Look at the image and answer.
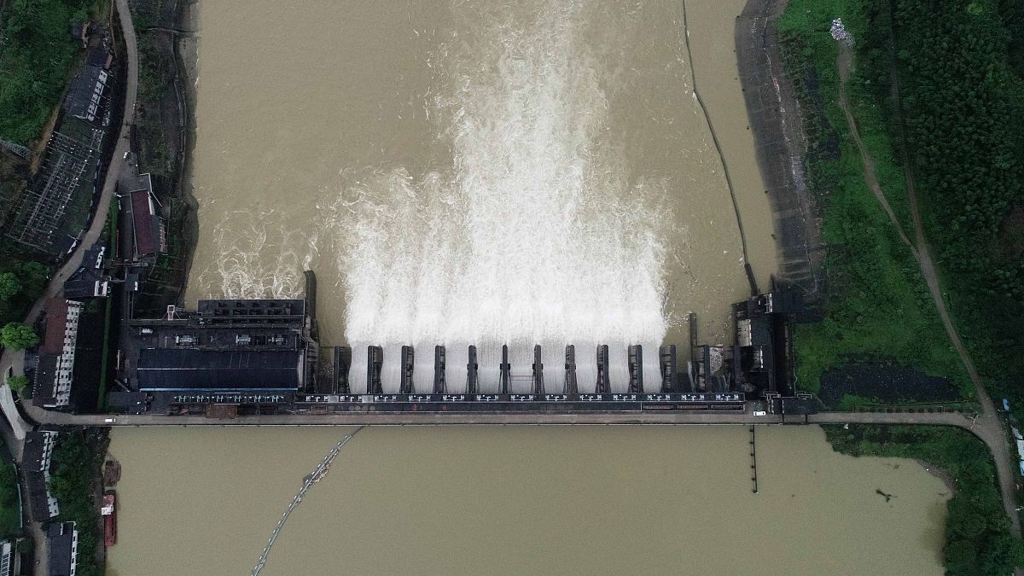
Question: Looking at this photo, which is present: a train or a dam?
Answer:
dam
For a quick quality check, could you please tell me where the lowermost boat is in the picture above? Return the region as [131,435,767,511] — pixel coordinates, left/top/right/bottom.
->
[101,490,116,547]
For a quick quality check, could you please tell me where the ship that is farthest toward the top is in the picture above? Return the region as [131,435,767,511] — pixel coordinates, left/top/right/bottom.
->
[104,461,120,486]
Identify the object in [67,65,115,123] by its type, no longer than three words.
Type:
building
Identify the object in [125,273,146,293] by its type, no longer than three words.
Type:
shed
